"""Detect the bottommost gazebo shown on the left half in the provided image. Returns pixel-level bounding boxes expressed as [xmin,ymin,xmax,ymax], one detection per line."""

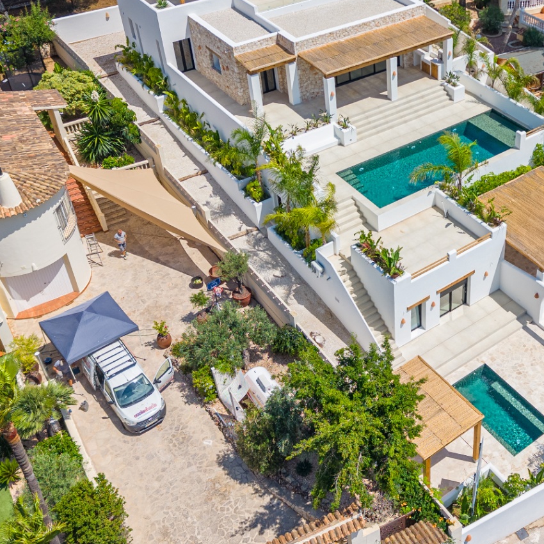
[38,292,149,393]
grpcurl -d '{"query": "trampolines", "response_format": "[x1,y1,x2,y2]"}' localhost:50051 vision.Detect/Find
[0,42,51,91]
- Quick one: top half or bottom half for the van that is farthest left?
bottom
